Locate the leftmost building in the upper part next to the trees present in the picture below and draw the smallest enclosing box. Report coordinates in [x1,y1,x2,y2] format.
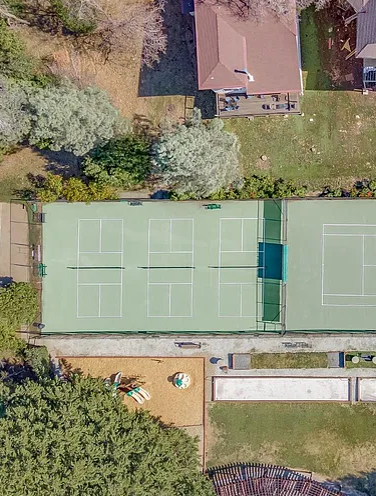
[181,0,309,120]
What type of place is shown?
sports ground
